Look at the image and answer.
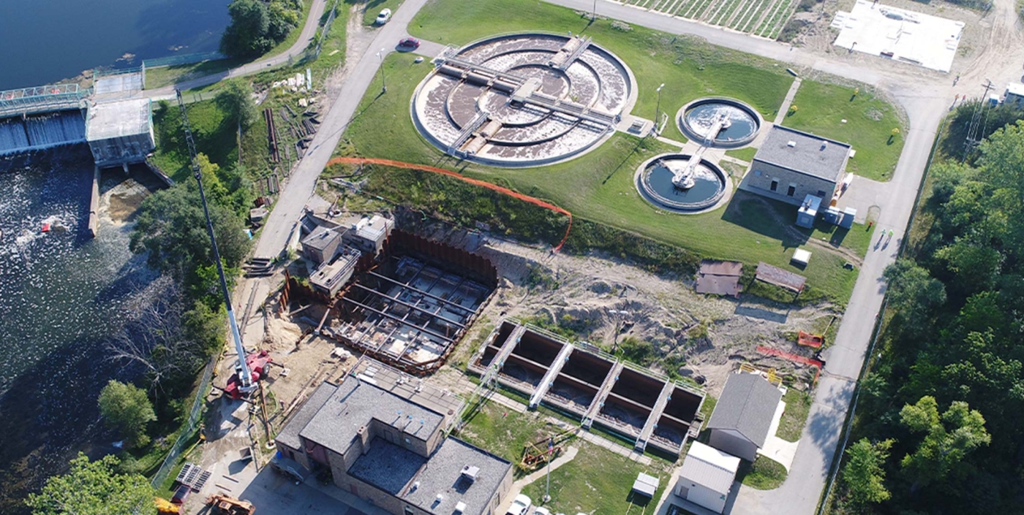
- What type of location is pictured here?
industrial area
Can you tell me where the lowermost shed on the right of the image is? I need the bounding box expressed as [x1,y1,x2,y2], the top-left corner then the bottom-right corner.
[677,441,741,512]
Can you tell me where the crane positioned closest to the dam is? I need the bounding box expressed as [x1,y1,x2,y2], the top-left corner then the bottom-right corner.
[173,88,293,416]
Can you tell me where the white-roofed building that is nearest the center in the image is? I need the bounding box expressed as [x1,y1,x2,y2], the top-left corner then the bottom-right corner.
[353,214,394,248]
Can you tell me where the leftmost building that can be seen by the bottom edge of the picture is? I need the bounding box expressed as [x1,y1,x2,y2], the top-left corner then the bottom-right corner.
[276,368,513,515]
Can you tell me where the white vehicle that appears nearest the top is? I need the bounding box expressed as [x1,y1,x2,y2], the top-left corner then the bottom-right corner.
[376,9,390,22]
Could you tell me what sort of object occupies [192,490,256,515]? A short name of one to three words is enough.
work vehicle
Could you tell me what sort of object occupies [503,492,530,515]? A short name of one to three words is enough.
truck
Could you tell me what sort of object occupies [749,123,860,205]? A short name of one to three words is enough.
building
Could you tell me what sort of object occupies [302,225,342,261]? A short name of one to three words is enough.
building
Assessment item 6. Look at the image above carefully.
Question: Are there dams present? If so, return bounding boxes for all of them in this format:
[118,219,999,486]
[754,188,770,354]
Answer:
[0,109,90,160]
